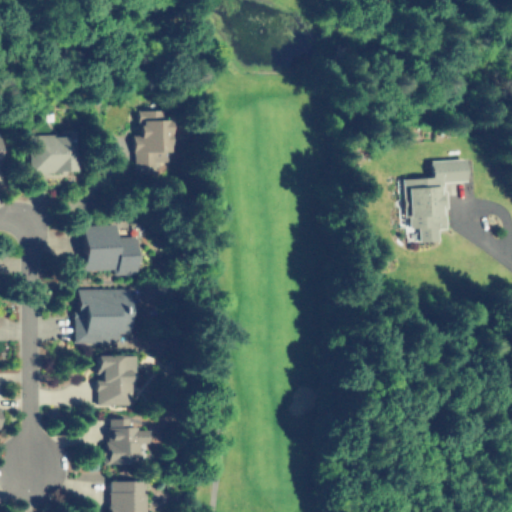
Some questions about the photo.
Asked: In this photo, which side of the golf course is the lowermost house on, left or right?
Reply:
left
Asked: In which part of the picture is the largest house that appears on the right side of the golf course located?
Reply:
right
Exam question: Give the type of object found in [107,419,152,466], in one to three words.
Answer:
house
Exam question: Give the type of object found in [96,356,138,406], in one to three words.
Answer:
house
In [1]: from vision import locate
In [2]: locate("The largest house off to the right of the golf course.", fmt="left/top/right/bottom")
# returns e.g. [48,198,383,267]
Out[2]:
[404,160,471,244]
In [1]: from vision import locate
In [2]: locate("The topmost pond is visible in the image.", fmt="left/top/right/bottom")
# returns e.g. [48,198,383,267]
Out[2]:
[224,0,314,68]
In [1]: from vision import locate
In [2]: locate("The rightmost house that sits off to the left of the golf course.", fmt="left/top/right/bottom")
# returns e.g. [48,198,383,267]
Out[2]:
[134,110,176,168]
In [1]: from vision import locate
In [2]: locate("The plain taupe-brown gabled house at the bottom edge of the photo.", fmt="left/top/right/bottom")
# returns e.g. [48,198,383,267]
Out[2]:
[109,482,148,512]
